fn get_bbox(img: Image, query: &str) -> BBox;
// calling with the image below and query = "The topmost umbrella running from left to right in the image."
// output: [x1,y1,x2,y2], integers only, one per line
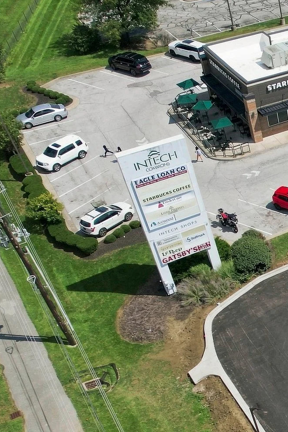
[167,76,199,91]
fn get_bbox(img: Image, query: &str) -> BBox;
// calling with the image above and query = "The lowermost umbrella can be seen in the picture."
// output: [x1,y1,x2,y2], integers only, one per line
[206,112,240,141]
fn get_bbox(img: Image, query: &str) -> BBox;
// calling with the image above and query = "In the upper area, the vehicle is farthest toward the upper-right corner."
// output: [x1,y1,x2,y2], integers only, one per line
[169,39,207,60]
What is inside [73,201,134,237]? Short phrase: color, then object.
white car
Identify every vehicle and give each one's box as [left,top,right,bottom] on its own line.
[34,135,91,172]
[213,207,239,231]
[73,201,134,237]
[109,52,148,75]
[169,39,207,60]
[14,103,68,128]
[270,183,288,210]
